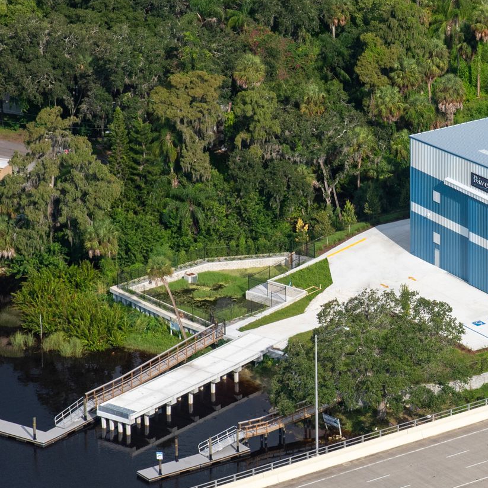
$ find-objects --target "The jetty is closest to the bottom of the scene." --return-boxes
[137,442,251,486]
